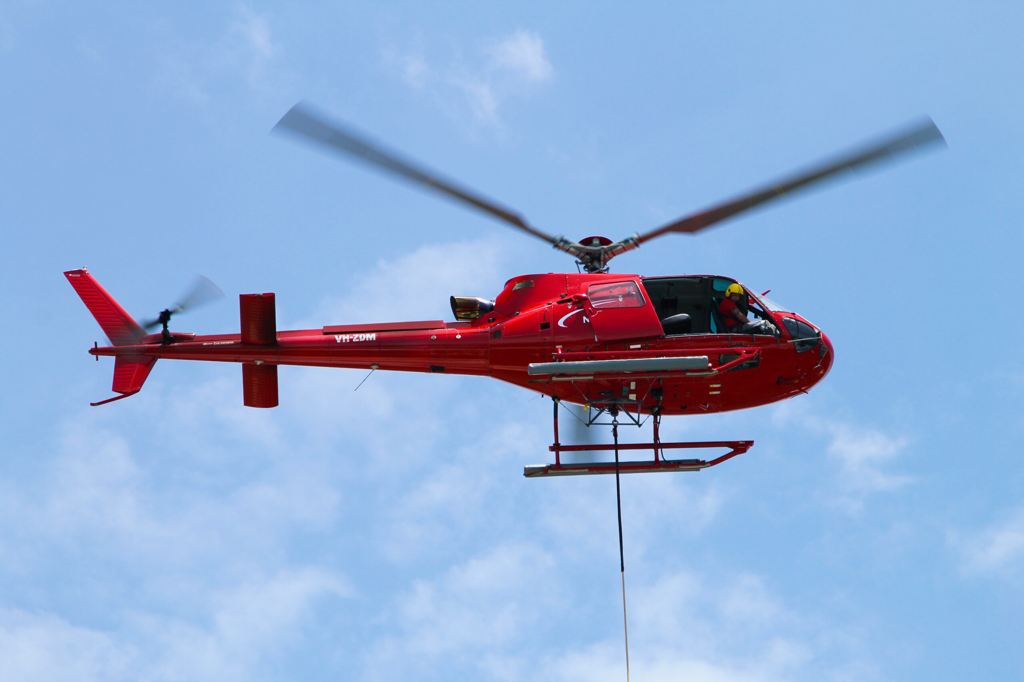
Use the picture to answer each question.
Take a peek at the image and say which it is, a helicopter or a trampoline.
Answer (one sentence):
There is a helicopter in the scene.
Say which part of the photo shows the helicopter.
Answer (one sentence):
The helicopter sits in the center section of the image.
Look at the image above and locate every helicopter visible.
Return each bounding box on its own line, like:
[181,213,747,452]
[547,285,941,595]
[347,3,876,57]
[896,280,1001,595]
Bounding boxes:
[64,107,942,476]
